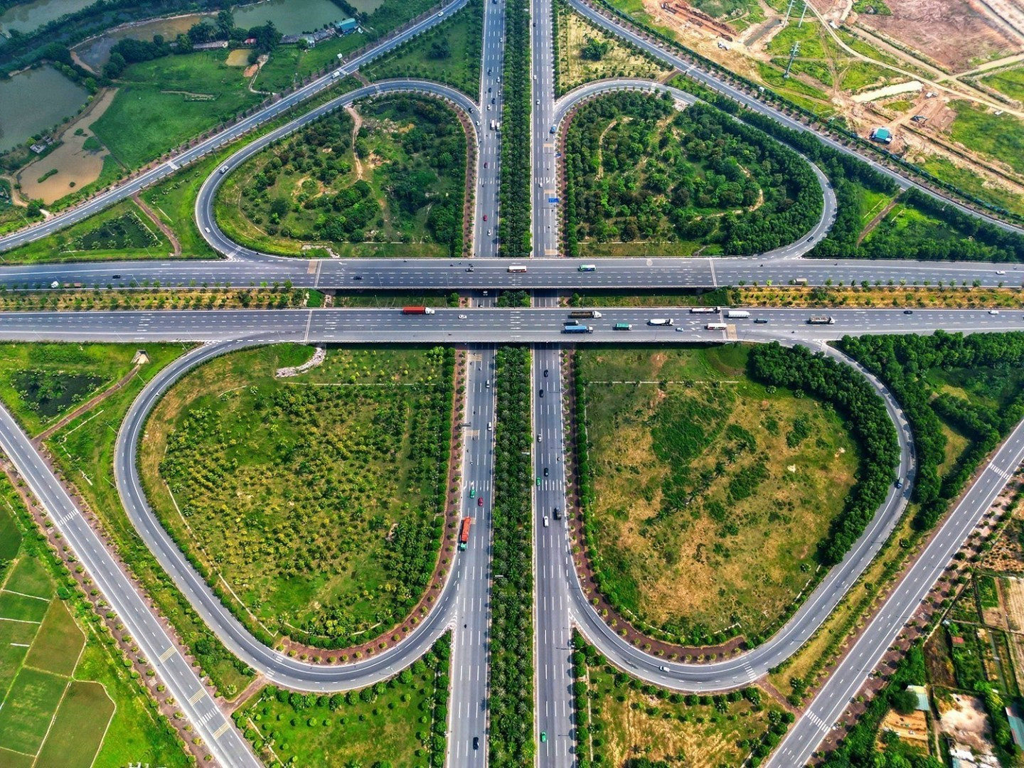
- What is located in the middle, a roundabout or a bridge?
bridge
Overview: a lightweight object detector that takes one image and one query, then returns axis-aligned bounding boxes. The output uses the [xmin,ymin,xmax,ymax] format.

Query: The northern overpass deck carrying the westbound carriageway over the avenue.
[310,256,721,293]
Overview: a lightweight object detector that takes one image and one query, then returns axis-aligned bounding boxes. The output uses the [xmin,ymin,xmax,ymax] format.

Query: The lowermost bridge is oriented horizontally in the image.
[303,307,728,346]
